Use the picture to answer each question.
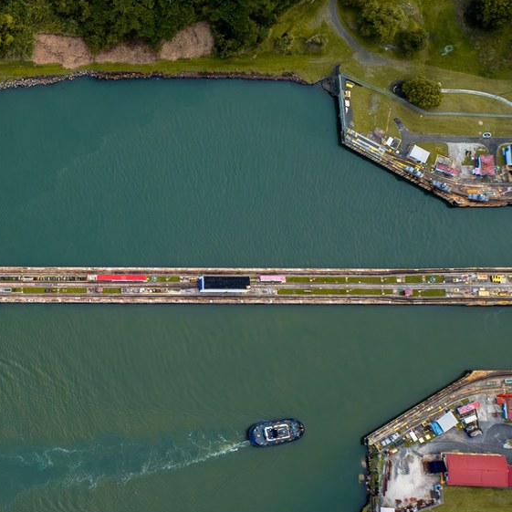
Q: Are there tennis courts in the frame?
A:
No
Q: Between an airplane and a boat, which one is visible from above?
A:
boat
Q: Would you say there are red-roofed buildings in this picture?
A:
Yes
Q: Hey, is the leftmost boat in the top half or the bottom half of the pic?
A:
bottom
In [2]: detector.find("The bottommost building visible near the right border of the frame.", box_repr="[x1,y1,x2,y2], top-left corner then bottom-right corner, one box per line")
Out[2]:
[439,453,512,487]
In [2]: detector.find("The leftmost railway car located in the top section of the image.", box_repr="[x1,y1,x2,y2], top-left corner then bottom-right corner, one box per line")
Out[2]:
[404,165,425,178]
